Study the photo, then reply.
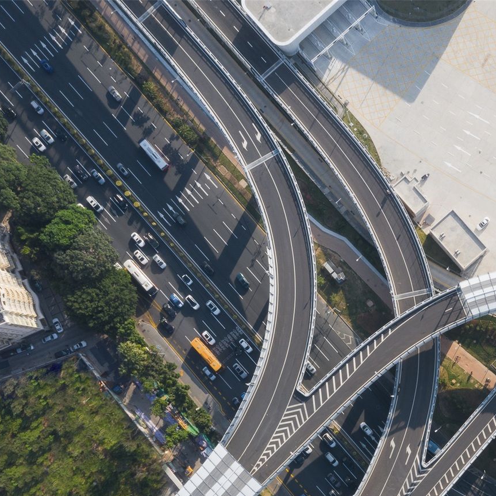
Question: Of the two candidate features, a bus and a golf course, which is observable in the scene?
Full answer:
The image shows a bus.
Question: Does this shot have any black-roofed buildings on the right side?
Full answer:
No, on the right side there is no black-roofed building.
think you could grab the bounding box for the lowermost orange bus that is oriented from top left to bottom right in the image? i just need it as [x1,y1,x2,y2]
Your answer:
[186,337,222,374]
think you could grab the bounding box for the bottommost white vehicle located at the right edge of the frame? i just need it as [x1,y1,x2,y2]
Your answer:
[477,214,492,232]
